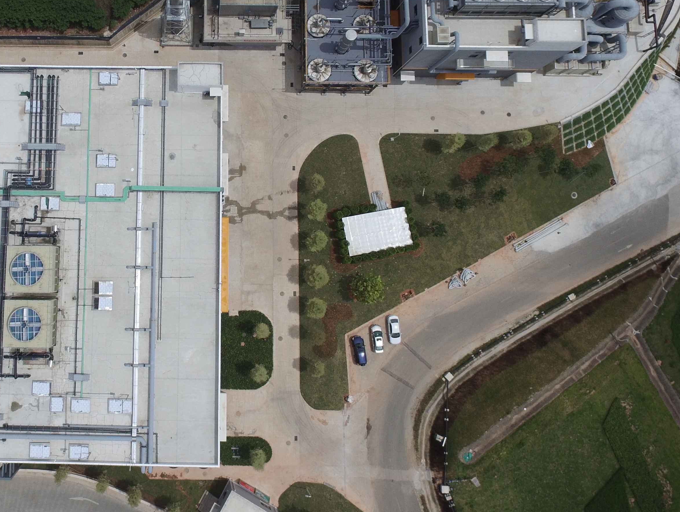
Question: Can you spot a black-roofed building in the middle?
No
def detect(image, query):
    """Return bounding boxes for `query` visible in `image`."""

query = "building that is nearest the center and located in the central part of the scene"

[339,208,413,256]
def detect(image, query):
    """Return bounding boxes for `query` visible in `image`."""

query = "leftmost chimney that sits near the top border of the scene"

[160,0,193,44]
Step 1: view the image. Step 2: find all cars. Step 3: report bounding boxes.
[371,325,386,353]
[352,336,369,368]
[388,315,404,344]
